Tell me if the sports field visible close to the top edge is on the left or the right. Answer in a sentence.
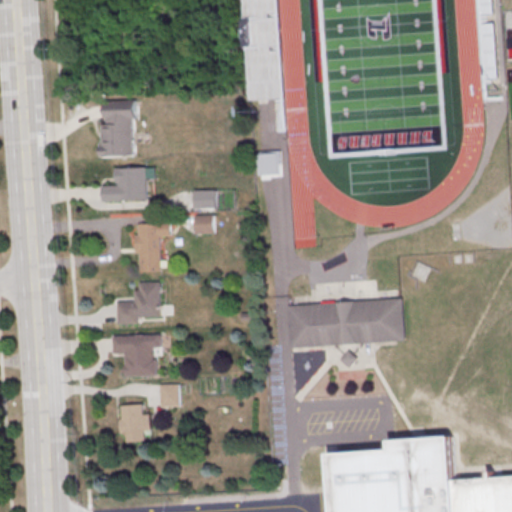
The sports field visible close to the top edge sits on the right side.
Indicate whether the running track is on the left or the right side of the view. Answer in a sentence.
You can find the running track on the right side of the picture.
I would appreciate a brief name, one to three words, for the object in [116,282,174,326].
house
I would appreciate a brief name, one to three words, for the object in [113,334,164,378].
house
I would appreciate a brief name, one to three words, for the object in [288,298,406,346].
building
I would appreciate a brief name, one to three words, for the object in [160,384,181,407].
building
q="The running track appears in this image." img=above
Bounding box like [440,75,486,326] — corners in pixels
[278,0,484,250]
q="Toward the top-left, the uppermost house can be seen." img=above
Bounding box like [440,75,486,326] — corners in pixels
[98,100,140,156]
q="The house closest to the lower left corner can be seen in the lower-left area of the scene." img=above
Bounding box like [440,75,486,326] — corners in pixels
[118,404,154,443]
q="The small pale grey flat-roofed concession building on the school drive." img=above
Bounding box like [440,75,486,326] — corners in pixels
[256,150,286,181]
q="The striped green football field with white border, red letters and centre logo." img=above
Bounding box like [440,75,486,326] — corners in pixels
[311,0,455,160]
